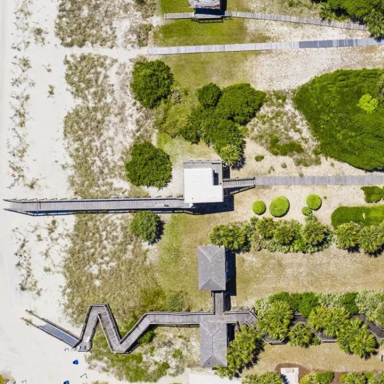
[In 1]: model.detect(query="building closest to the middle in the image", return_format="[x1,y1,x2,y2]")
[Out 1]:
[181,160,232,203]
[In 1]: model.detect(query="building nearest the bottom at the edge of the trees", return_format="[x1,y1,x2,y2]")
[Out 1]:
[200,319,231,368]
